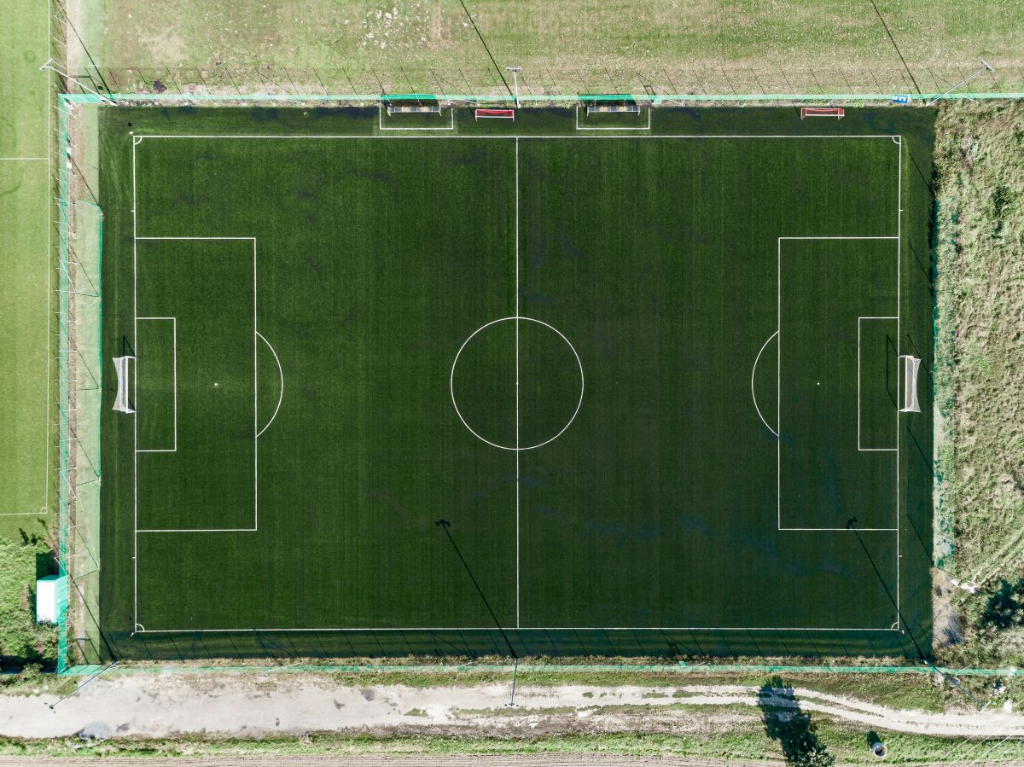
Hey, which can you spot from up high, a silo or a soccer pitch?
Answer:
soccer pitch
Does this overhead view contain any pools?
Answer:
No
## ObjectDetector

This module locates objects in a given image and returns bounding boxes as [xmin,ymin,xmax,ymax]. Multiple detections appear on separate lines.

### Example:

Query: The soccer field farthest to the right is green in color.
[99,107,934,657]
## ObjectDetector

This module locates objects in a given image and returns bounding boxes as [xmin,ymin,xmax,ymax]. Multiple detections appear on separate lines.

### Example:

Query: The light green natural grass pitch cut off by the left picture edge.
[0,0,53,529]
